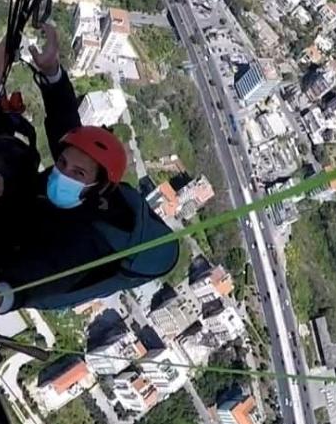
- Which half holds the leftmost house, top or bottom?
bottom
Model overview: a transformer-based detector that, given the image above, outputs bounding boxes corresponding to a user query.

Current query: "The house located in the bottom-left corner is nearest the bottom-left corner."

[39,385,66,411]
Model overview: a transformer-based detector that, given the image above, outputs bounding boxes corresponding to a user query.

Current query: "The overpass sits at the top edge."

[167,0,216,66]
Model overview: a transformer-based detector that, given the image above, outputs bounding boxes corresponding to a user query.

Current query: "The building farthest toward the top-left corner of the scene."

[77,1,101,52]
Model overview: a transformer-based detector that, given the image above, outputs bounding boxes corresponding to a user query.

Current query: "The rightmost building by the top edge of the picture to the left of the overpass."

[103,8,131,51]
